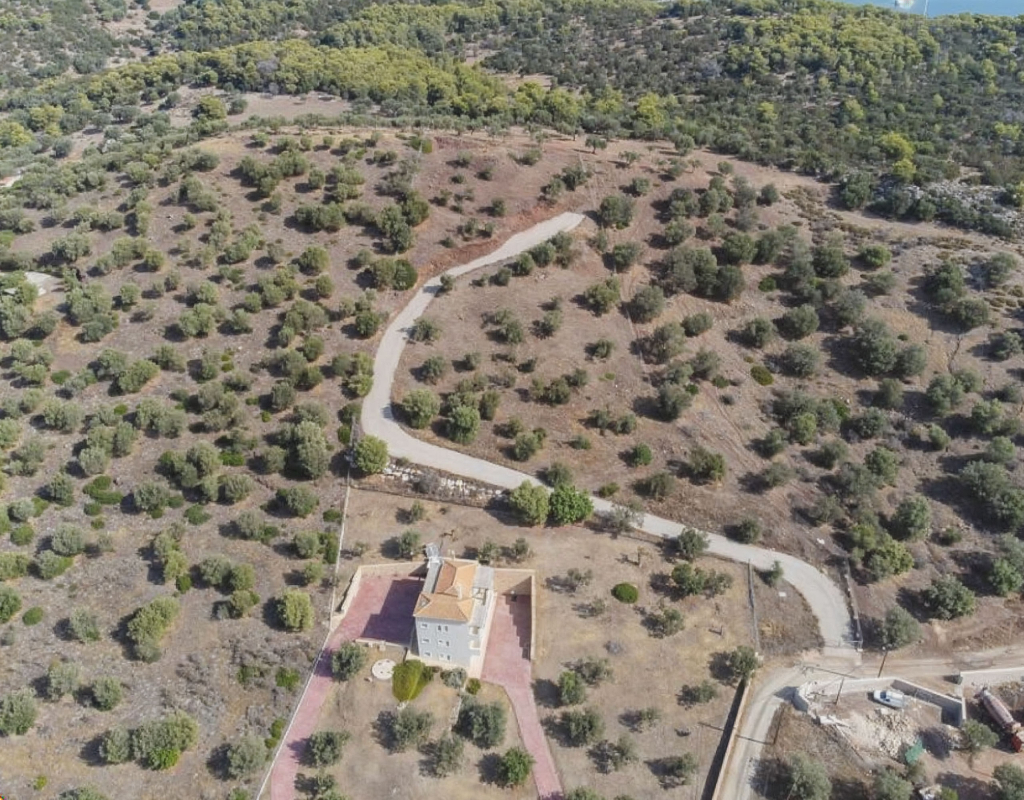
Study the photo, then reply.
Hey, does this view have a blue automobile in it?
No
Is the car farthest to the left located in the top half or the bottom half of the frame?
bottom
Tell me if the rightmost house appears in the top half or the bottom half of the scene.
bottom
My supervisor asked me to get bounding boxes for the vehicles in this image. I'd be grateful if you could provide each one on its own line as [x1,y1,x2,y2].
[975,687,1024,756]
[871,688,908,712]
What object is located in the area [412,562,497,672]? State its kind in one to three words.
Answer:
house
